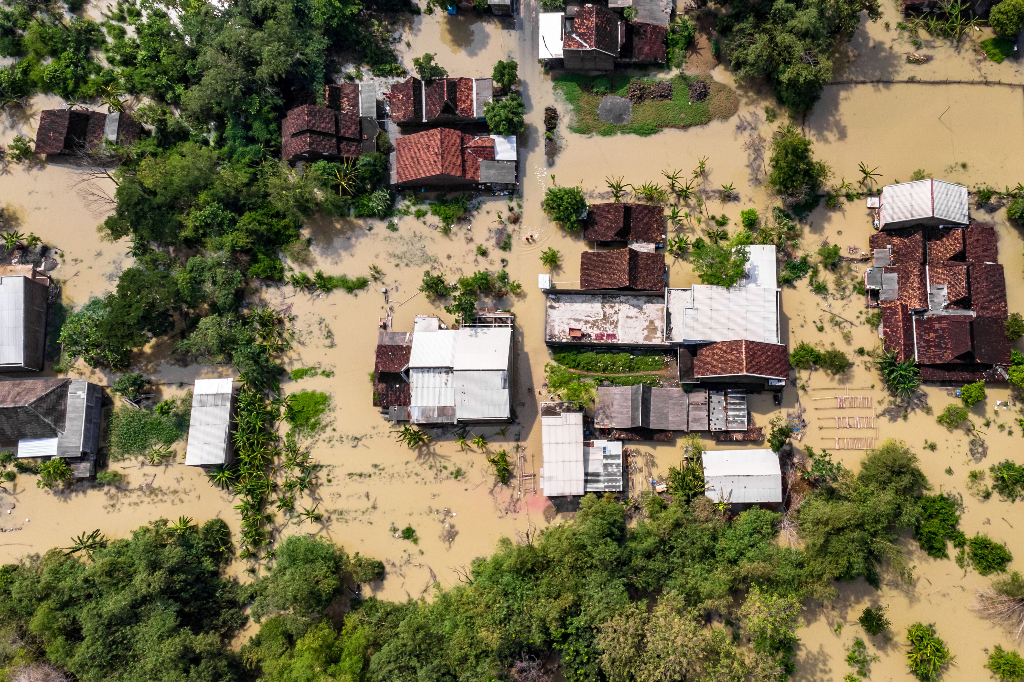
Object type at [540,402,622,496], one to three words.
building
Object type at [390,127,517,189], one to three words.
house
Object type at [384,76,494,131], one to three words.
house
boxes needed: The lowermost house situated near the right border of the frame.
[861,227,1011,383]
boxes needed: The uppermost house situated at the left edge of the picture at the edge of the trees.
[35,109,148,160]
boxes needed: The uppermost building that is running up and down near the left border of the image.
[0,263,52,373]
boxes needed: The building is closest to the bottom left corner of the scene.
[0,378,109,477]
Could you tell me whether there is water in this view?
Yes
